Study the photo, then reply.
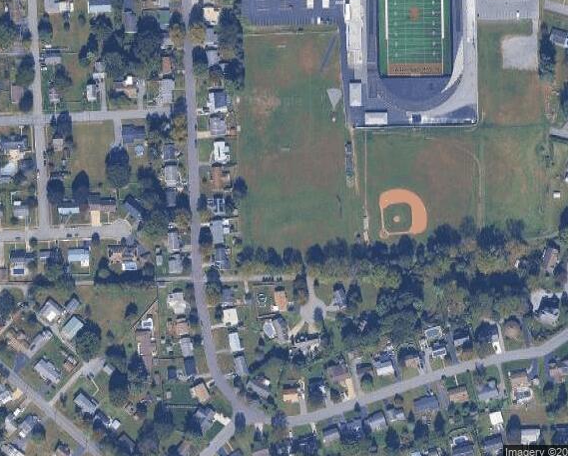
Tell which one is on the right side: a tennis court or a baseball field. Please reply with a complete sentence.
There is a baseball field on the right side.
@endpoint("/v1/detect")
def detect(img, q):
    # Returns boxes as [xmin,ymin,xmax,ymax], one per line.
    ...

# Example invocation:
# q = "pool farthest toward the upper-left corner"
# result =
[0,160,18,176]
